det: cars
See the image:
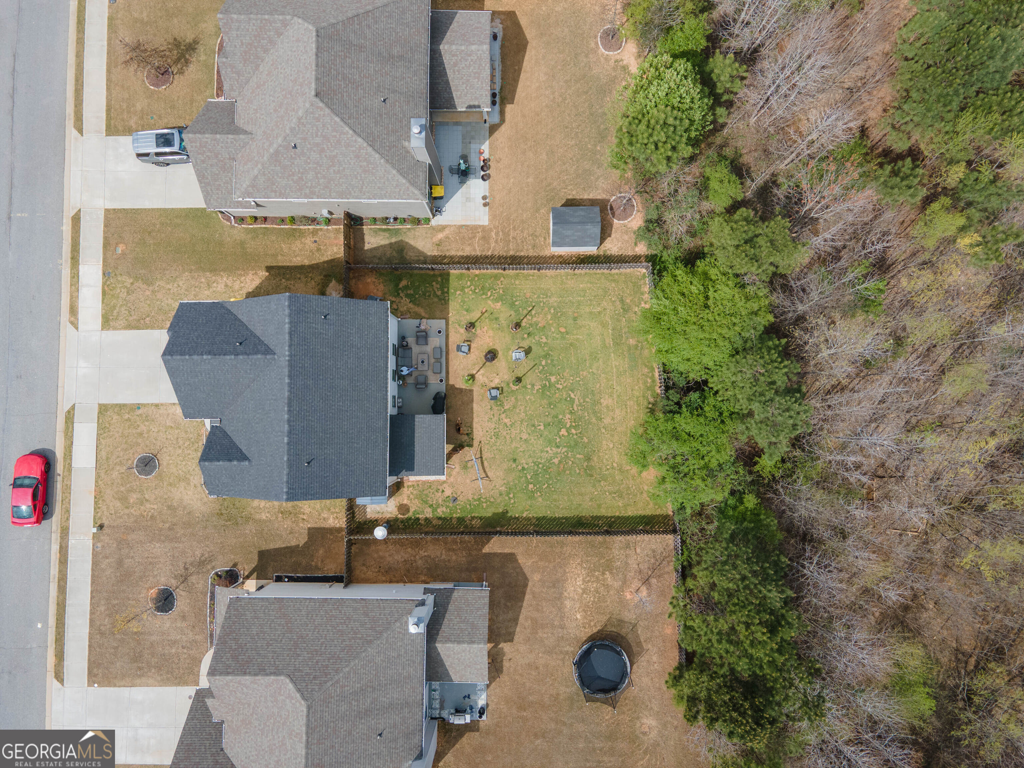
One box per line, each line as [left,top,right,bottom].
[130,124,193,166]
[9,454,51,527]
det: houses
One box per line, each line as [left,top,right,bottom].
[161,293,448,502]
[185,0,491,224]
[173,576,490,768]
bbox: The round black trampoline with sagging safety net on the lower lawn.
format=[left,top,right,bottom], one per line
[573,634,634,712]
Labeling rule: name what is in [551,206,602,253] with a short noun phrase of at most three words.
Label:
shed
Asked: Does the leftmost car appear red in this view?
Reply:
Yes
